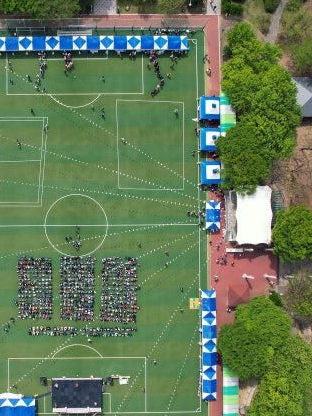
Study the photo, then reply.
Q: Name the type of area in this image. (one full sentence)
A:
It's a sports ground.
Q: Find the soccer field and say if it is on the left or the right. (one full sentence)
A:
The soccer field appears in the left half of the scene.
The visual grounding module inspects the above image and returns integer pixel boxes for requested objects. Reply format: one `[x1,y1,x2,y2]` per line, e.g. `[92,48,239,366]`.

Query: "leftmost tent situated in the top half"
[0,36,26,53]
